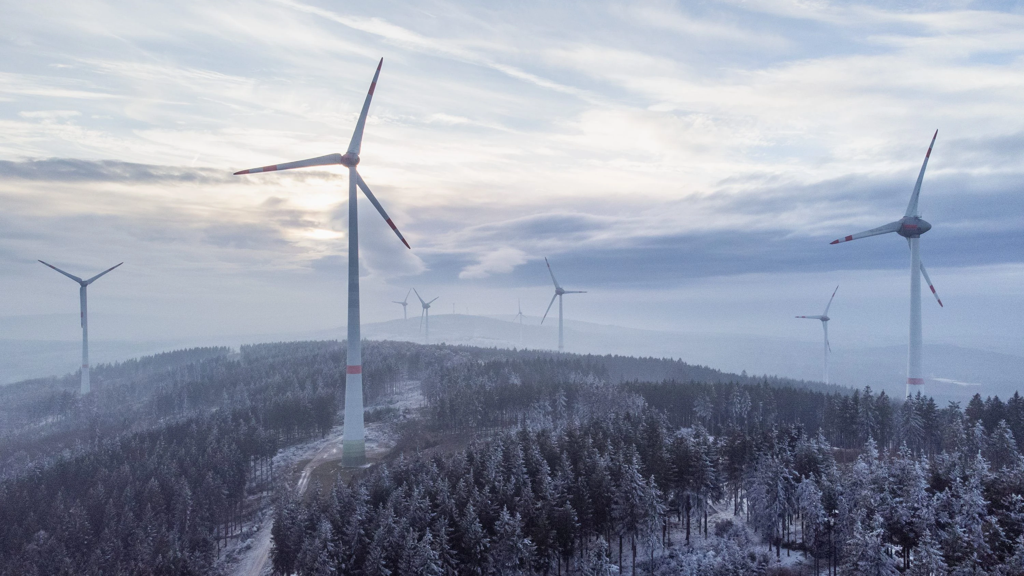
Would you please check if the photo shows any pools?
No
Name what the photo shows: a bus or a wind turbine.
wind turbine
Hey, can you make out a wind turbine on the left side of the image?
Yes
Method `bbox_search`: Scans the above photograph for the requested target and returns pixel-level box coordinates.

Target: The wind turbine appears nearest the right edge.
[829,132,943,452]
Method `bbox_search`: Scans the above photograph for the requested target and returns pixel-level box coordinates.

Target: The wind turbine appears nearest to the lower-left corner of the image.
[39,261,123,401]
